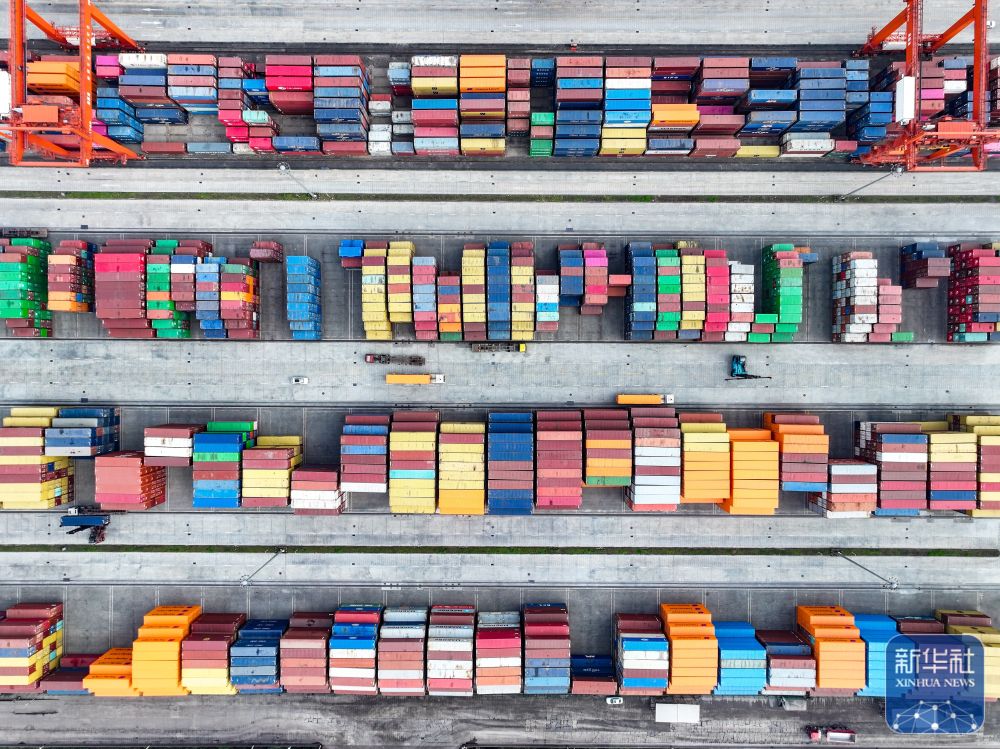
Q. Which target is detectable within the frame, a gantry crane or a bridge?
gantry crane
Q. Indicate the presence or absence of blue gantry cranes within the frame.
No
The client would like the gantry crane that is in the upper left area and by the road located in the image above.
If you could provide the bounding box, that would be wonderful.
[0,0,146,168]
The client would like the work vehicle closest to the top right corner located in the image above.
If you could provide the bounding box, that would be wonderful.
[725,350,774,380]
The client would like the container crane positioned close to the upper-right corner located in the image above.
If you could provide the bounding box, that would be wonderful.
[856,0,1000,172]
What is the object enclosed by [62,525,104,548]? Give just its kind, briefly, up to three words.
work vehicle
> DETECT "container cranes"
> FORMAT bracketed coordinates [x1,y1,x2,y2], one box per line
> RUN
[856,0,1000,172]
[0,0,146,168]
